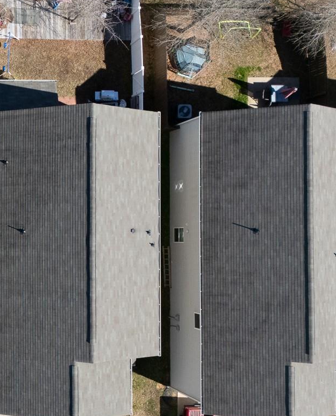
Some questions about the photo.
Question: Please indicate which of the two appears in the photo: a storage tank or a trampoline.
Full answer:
I can see a trampoline in this picture.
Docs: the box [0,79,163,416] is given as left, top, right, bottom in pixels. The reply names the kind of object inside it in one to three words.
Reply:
house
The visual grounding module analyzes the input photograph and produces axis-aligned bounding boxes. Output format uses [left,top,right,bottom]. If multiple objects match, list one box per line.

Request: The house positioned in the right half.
[170,105,336,416]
